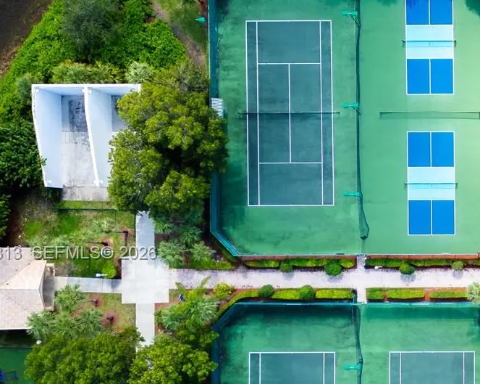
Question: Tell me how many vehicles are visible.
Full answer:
Not a single vehicle can be seen.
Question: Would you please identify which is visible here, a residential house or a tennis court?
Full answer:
There is a tennis court in the scene.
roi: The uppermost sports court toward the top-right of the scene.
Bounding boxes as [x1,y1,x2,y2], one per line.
[405,0,454,94]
